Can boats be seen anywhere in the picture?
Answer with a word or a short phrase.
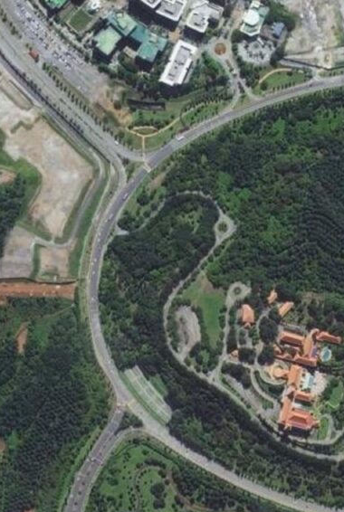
No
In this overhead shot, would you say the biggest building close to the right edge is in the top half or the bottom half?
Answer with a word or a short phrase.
bottom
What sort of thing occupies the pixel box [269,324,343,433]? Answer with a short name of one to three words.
building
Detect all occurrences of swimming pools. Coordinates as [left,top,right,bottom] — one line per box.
[307,373,315,389]
[321,347,332,362]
